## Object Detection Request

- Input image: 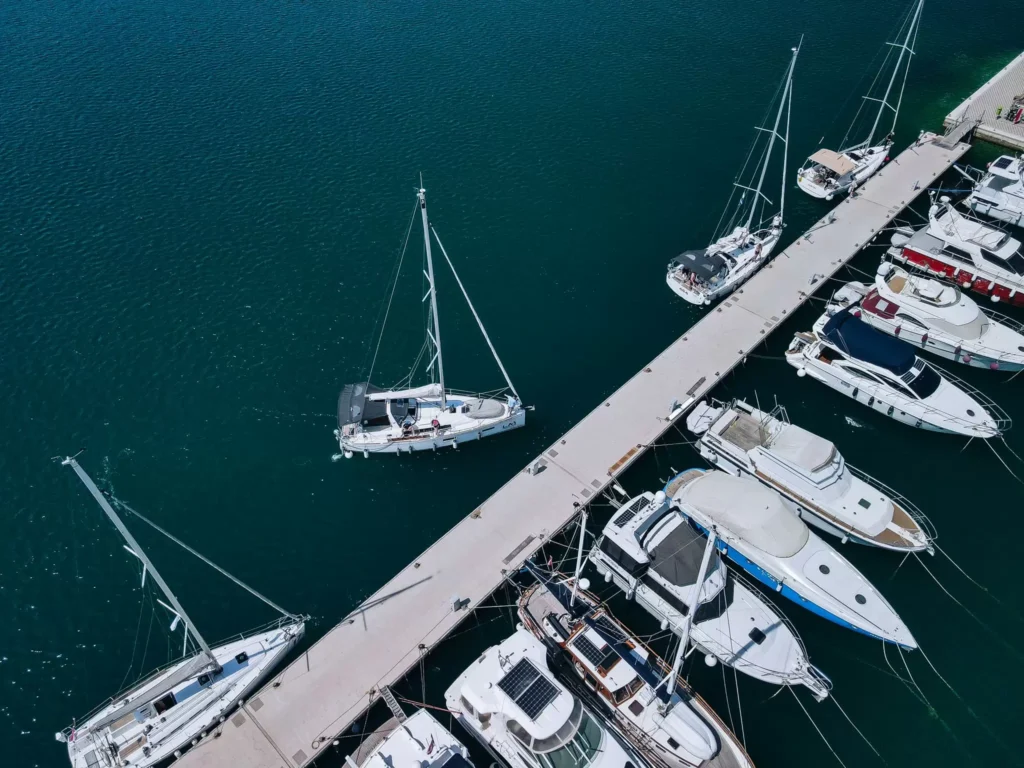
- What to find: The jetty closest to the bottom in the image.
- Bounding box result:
[166,132,970,768]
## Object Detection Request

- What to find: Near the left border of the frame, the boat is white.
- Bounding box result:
[44,458,313,768]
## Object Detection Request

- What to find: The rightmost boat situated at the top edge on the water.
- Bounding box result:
[794,0,929,201]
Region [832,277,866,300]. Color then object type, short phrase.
white boat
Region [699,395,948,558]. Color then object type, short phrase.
white boat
